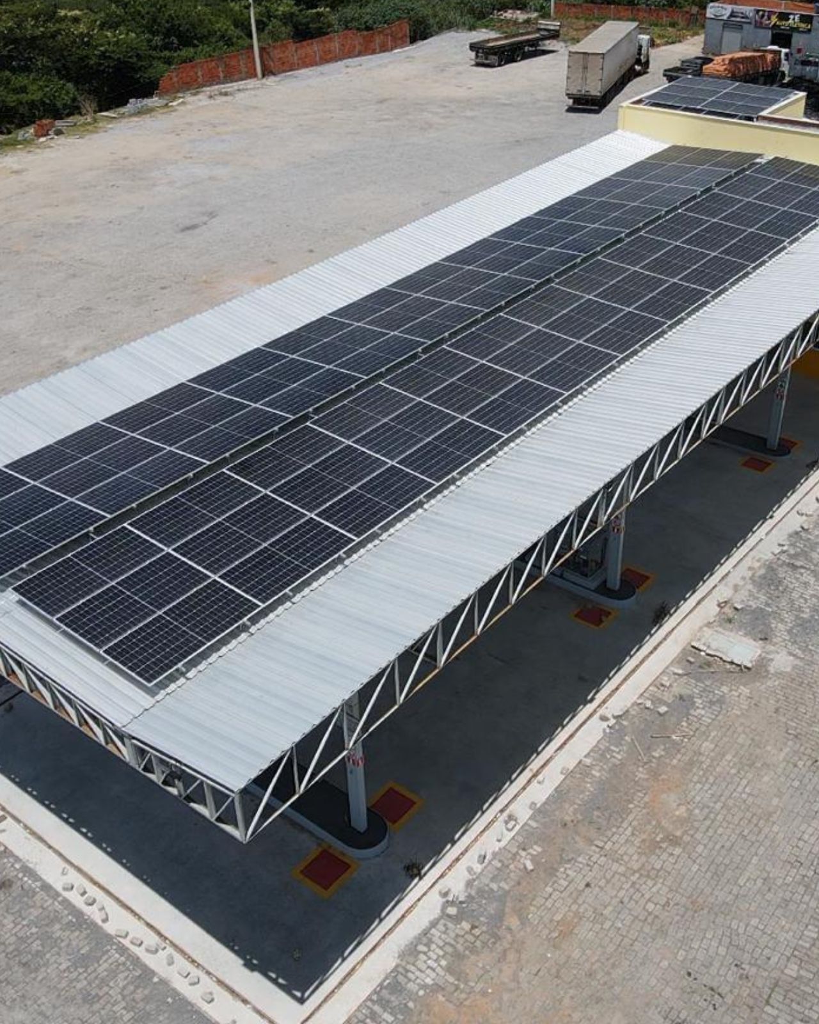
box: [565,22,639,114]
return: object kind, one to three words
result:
trailer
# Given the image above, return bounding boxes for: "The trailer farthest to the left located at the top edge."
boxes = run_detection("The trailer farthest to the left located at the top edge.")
[469,15,562,66]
